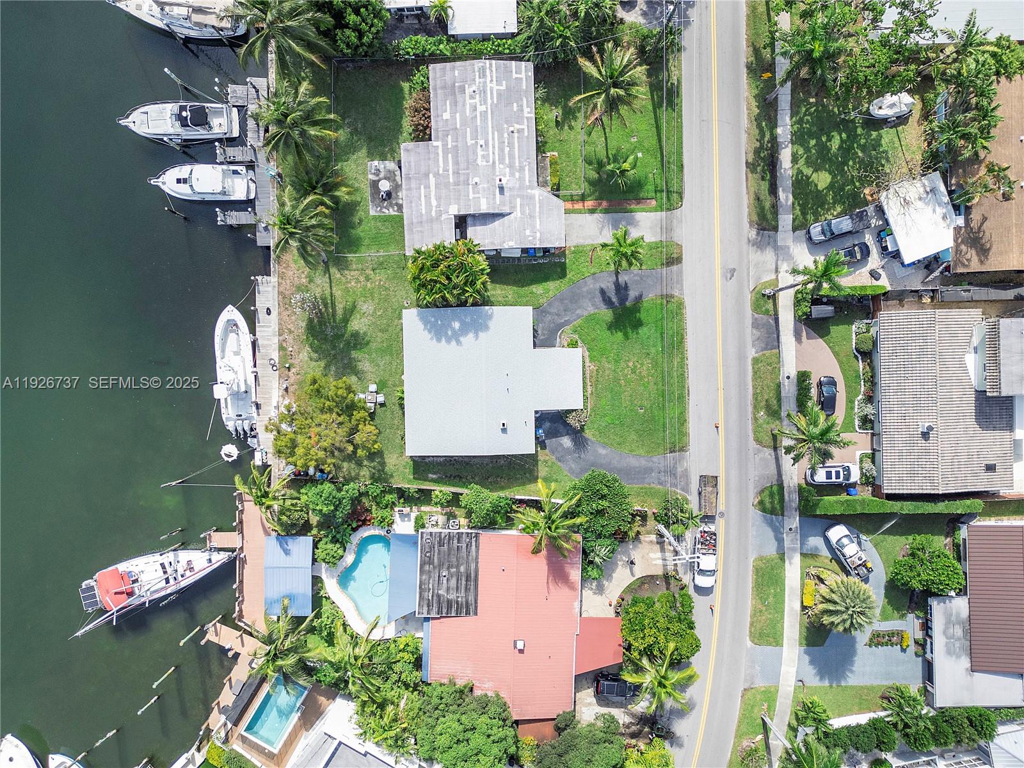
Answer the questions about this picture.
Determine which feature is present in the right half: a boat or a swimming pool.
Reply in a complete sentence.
The one visible in the right half is a boat.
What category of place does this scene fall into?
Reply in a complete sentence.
The area seen from above is a residential area.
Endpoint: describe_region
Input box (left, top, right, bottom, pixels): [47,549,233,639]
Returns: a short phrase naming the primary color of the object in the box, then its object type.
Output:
white boat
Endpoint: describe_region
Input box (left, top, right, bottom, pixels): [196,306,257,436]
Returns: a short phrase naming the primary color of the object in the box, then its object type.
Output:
white boat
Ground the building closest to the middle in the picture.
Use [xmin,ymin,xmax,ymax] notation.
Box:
[402,305,584,457]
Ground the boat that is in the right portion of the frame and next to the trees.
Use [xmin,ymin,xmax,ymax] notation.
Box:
[850,89,915,124]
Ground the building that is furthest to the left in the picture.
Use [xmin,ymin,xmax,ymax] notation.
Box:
[259,536,313,618]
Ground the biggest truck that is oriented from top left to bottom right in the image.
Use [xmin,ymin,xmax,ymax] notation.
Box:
[829,522,877,582]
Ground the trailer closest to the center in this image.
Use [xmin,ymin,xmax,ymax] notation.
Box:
[695,475,722,526]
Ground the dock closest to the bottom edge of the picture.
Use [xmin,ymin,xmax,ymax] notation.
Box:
[209,619,265,734]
